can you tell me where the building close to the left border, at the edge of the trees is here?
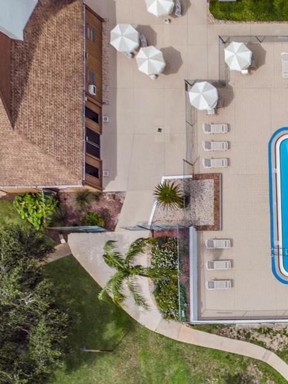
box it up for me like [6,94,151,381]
[0,0,103,193]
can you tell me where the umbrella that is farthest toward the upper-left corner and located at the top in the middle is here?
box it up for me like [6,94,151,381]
[111,24,142,56]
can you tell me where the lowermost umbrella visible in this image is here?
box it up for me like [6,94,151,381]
[189,82,219,112]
